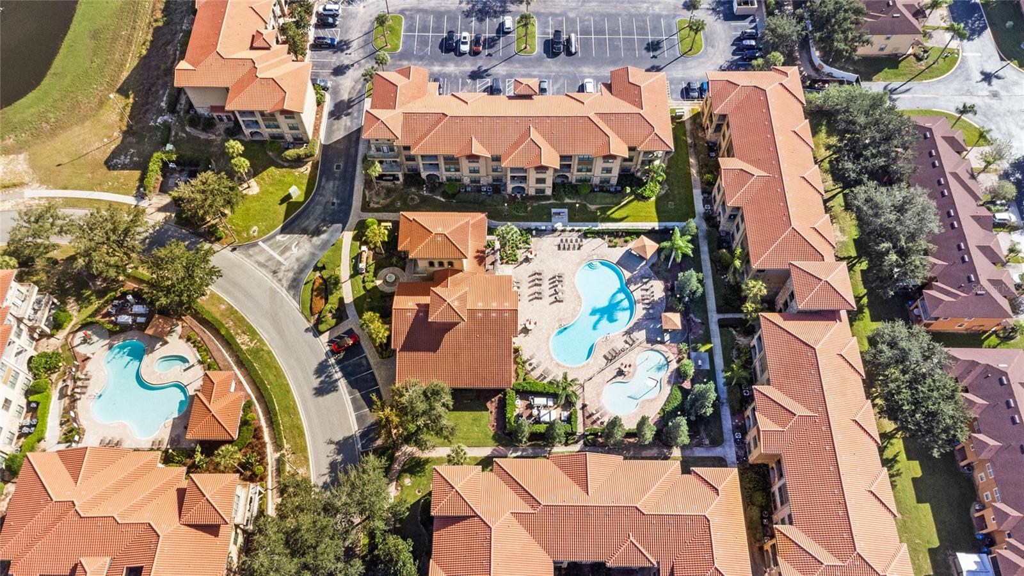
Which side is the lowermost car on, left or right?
left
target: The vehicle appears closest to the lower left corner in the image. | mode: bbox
[330,333,361,354]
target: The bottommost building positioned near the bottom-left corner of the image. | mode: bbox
[0,446,257,576]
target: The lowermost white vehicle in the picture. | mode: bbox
[991,210,1021,225]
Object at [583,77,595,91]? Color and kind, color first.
white vehicle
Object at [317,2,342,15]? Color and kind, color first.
white vehicle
